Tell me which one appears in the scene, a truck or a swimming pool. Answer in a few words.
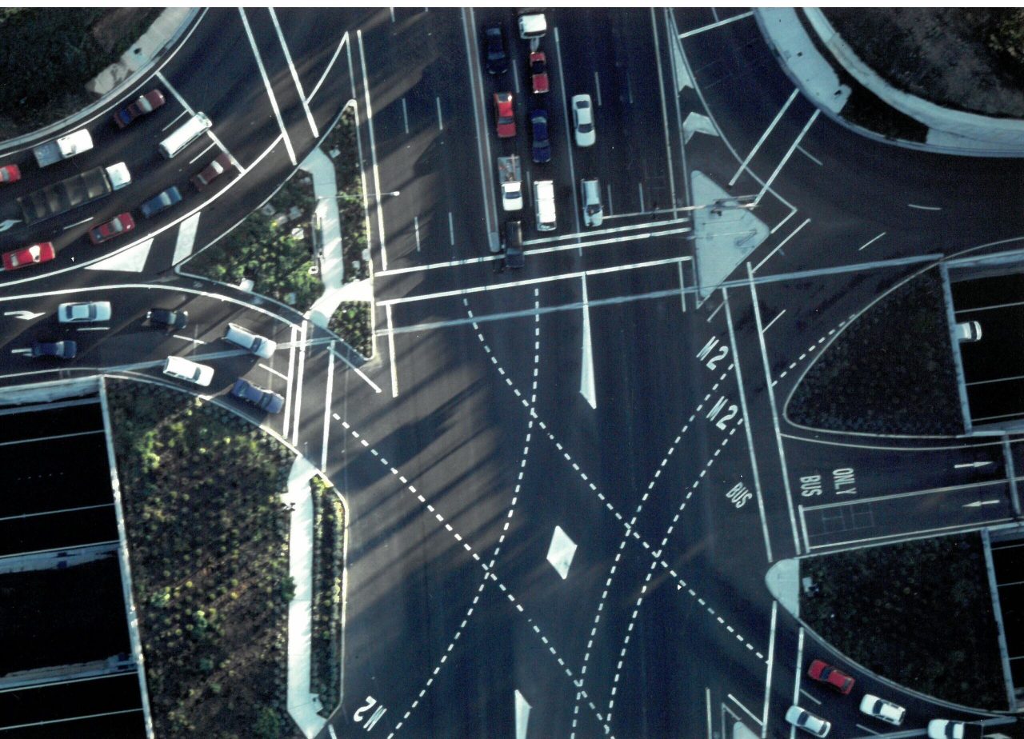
truck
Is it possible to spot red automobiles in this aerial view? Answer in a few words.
Yes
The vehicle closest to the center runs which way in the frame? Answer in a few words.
vertically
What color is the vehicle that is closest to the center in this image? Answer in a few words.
black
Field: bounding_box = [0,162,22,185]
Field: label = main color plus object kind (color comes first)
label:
red car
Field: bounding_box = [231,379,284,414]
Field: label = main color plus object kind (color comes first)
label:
blue car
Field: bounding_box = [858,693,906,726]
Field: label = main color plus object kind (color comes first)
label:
white car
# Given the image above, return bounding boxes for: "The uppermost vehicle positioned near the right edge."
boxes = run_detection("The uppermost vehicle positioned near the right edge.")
[961,319,982,340]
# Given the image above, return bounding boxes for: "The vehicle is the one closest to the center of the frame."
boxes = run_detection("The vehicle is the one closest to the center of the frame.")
[503,221,525,268]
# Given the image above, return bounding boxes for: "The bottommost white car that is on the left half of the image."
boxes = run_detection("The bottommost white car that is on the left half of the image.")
[163,355,215,385]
